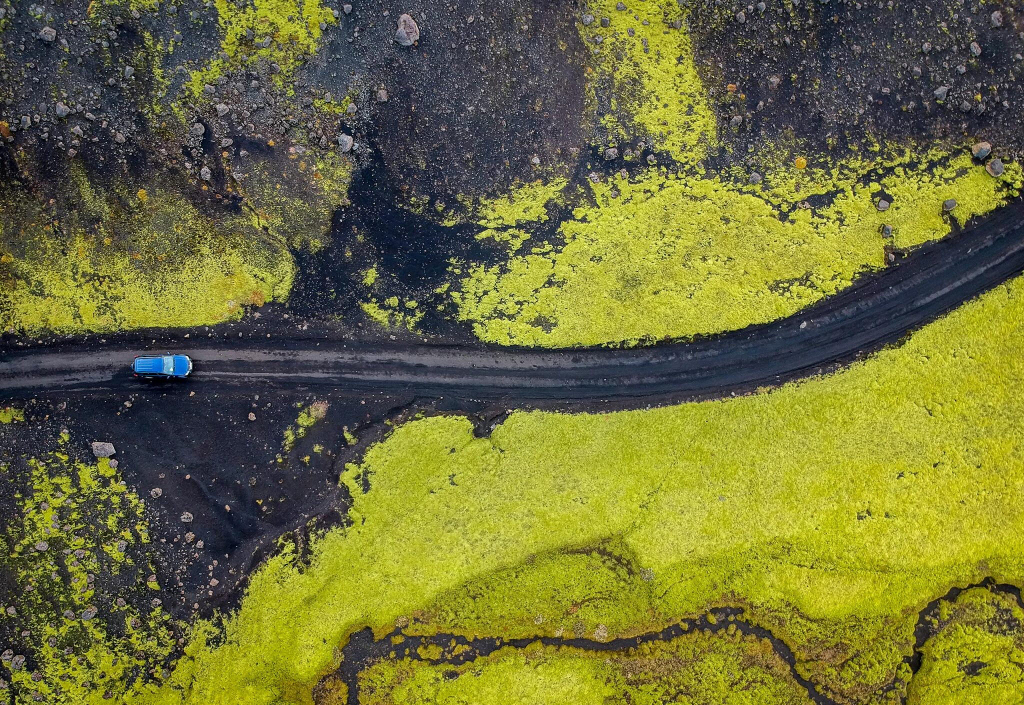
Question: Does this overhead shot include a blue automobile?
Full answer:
Yes, this view includes a blue automobile.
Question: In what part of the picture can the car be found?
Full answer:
The car appears toward the left of the photo.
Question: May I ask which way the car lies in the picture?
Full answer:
I'd say the car is aligned horizontally in the picture.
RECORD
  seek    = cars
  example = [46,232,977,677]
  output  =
[130,352,193,379]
